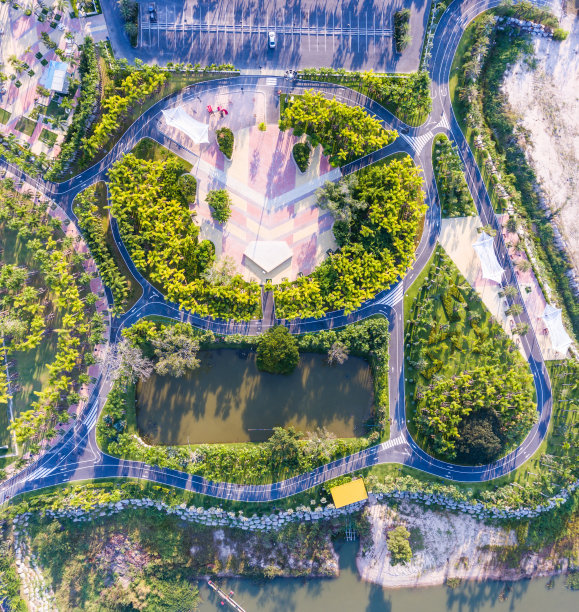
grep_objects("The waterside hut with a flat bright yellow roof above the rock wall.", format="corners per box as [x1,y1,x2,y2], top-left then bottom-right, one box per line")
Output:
[330,476,368,508]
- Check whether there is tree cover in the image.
Yes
